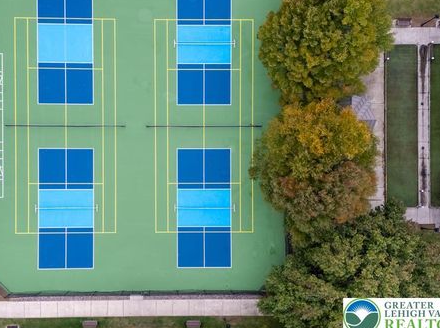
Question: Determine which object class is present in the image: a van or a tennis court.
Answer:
tennis court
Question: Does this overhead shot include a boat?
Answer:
No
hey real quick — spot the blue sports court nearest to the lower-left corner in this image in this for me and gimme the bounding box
[38,148,94,269]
